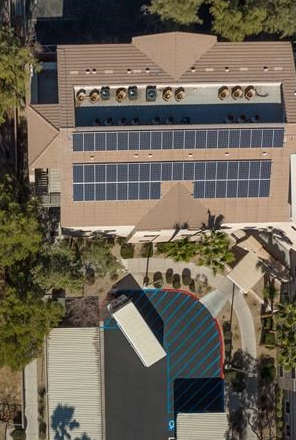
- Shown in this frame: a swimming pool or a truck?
truck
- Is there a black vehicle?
No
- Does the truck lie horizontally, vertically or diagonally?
diagonally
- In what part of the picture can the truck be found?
bottom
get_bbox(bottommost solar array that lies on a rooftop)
[73,160,272,201]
